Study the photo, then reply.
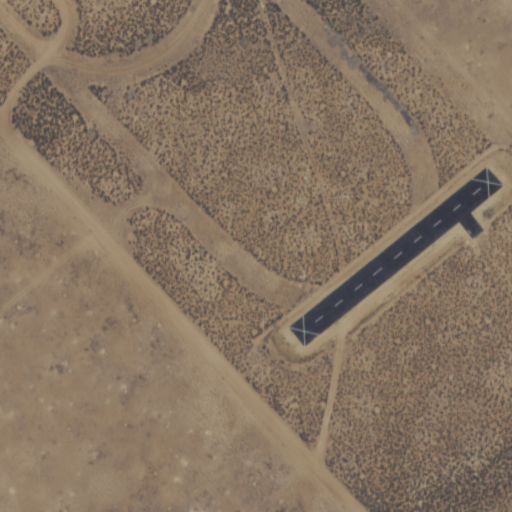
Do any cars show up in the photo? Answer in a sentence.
No, this view has no car in it.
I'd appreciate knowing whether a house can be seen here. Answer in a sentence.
No, there is no house in the image.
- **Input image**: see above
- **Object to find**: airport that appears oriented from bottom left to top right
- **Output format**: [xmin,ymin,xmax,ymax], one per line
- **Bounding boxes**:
[268,145,512,360]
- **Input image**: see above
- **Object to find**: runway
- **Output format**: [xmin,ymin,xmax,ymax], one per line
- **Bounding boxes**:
[290,168,502,346]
